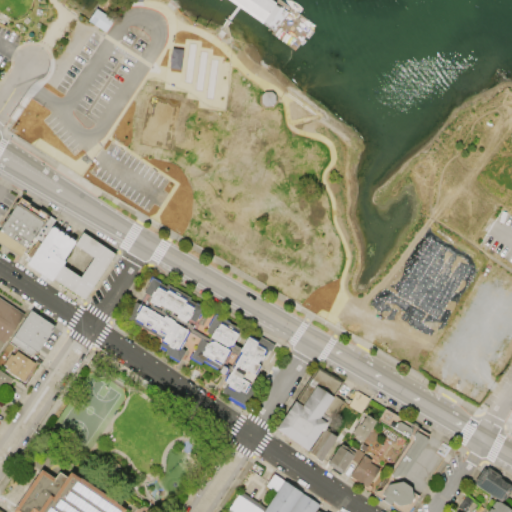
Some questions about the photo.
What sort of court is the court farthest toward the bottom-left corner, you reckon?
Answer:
basketball court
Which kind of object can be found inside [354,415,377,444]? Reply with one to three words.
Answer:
house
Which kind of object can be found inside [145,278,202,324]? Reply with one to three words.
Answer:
building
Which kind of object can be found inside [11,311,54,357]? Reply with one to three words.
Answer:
building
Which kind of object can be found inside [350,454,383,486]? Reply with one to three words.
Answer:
house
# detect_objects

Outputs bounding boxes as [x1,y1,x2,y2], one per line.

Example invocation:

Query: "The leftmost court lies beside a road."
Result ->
[57,370,126,447]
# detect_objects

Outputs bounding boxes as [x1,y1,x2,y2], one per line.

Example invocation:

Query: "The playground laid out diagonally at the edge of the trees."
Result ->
[146,440,192,500]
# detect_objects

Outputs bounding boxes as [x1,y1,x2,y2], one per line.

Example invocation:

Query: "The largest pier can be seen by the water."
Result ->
[272,8,316,51]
